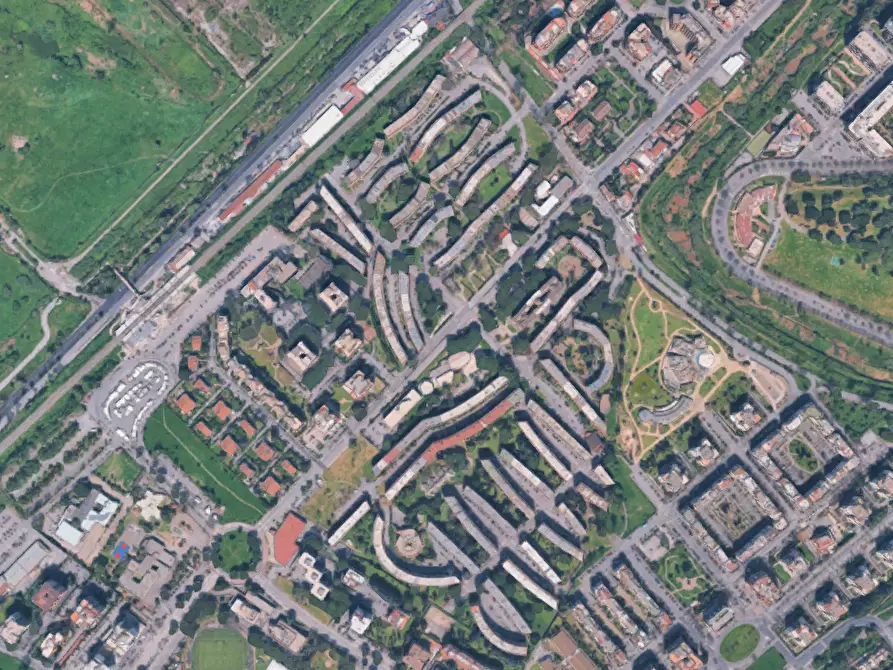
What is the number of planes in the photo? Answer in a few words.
0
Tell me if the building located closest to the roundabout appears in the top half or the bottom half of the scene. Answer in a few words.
bottom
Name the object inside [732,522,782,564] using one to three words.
building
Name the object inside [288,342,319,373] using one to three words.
building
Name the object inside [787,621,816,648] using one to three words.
house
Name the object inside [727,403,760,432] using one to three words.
house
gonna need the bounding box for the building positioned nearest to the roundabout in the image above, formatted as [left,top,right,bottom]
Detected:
[707,604,734,632]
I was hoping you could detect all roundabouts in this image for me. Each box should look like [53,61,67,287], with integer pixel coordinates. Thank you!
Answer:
[720,624,760,661]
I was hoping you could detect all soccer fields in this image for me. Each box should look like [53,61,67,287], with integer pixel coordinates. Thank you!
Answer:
[186,623,254,670]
